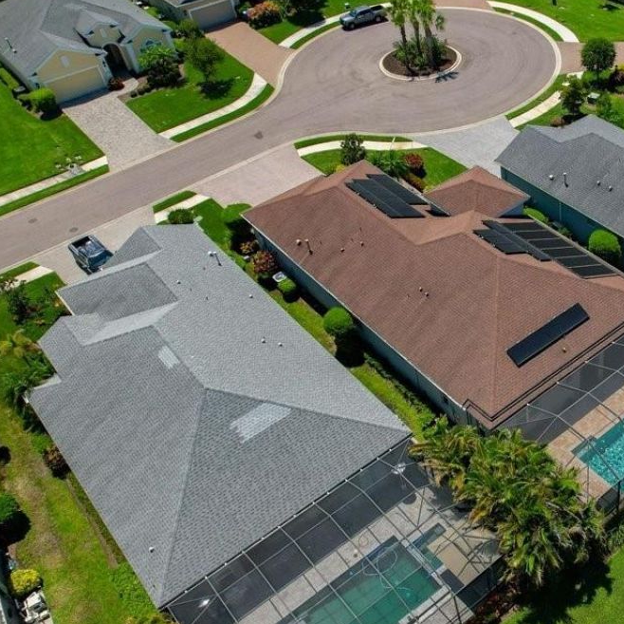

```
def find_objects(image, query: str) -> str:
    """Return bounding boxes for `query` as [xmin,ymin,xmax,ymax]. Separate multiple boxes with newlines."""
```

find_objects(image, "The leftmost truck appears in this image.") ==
[62,225,116,272]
